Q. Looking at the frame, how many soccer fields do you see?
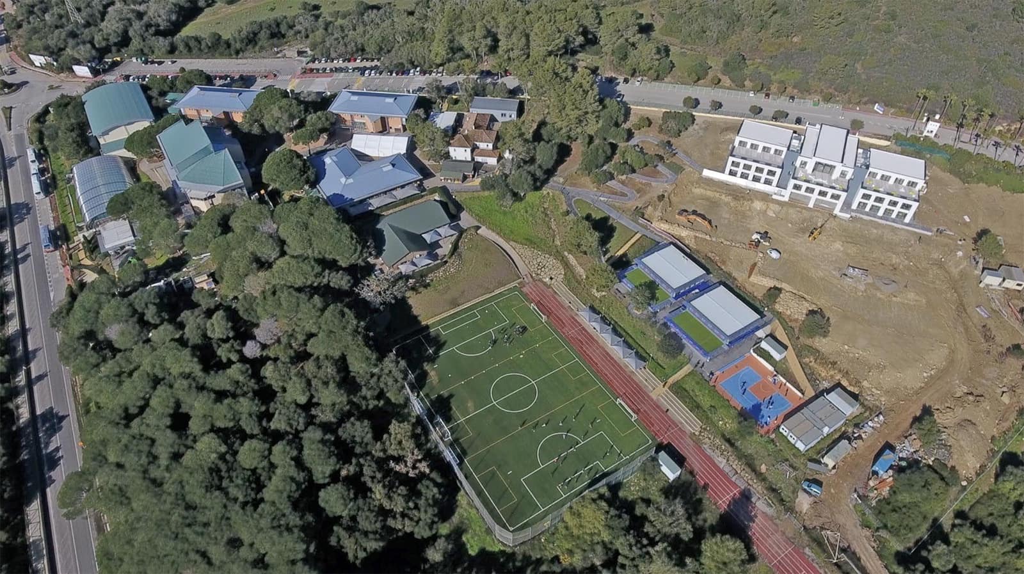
one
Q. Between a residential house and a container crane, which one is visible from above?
residential house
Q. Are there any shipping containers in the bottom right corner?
Yes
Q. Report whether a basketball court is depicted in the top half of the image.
No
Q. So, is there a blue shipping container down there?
Yes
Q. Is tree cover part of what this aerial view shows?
Yes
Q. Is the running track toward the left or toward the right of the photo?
right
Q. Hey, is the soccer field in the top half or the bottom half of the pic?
bottom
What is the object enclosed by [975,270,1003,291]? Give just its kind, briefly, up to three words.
shed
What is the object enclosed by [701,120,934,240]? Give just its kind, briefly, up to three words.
building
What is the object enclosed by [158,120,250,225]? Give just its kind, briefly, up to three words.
building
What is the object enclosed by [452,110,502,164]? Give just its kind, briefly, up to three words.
house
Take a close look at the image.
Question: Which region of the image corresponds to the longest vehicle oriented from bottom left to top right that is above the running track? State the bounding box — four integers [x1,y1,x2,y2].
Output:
[806,210,836,241]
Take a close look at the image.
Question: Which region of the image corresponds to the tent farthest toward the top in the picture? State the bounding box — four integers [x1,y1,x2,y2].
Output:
[351,135,412,160]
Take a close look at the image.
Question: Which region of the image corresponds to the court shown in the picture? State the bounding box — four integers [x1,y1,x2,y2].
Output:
[712,354,805,429]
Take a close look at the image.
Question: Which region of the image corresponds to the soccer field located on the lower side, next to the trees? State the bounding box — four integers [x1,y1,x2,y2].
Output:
[377,282,662,536]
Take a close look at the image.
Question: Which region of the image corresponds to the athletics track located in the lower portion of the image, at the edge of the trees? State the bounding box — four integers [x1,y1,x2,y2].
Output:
[516,276,822,574]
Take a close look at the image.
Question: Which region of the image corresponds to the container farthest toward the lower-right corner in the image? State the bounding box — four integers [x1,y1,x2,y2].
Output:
[866,450,896,482]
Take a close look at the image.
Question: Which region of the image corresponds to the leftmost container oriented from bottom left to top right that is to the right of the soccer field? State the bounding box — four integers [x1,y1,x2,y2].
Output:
[821,440,852,467]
